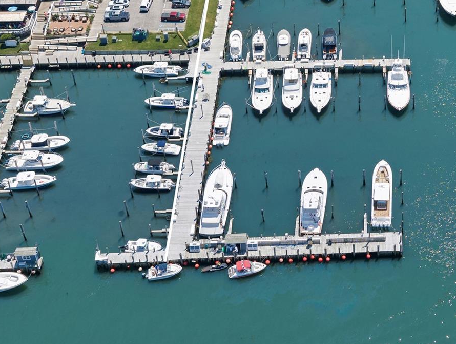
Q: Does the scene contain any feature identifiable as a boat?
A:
Yes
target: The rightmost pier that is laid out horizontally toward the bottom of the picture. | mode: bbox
[96,209,403,268]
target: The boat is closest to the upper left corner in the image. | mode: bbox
[24,95,79,118]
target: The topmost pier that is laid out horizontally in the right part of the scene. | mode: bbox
[221,46,410,92]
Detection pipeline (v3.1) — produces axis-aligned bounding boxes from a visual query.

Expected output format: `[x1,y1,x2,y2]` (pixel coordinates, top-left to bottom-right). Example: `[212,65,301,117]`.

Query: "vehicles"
[105,3,126,13]
[103,10,130,22]
[137,0,155,11]
[170,0,192,8]
[161,11,186,23]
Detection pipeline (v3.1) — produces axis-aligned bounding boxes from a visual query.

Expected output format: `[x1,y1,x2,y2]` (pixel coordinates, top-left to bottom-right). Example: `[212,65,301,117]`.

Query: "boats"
[229,260,266,281]
[142,264,181,284]
[212,105,233,150]
[0,164,56,195]
[309,68,332,112]
[24,95,79,118]
[134,63,182,87]
[120,228,162,256]
[251,28,272,62]
[277,65,302,112]
[193,157,233,237]
[367,159,402,228]
[317,28,337,60]
[135,155,177,178]
[230,30,248,62]
[15,127,70,156]
[0,275,27,294]
[146,89,189,110]
[146,121,185,141]
[273,28,291,61]
[247,54,274,113]
[386,48,411,111]
[201,263,229,274]
[299,169,332,234]
[2,147,64,175]
[131,166,177,193]
[141,141,181,157]
[295,28,318,60]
